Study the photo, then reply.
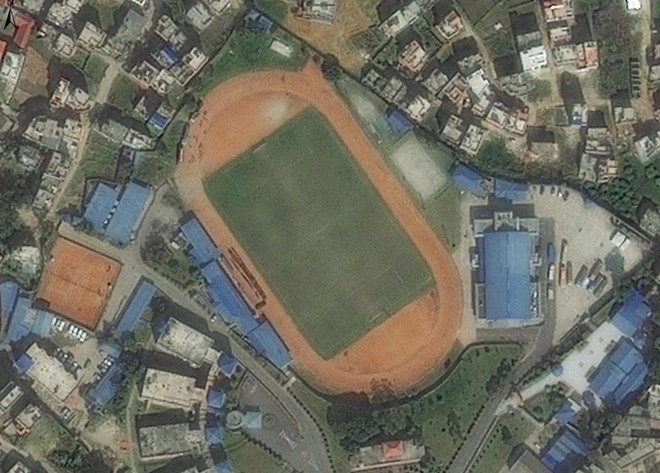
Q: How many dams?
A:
zero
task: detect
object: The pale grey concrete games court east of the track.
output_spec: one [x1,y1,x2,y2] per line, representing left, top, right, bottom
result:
[385,126,454,207]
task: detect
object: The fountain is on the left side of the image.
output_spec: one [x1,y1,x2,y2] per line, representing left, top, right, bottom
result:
[226,411,244,430]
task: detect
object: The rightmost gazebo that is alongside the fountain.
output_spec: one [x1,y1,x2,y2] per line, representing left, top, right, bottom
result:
[244,410,265,432]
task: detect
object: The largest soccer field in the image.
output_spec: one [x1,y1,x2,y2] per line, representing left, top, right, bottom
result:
[201,105,436,362]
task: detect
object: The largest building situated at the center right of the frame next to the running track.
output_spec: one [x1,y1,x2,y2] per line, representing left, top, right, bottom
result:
[472,211,548,328]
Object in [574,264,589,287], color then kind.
gray vehicle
